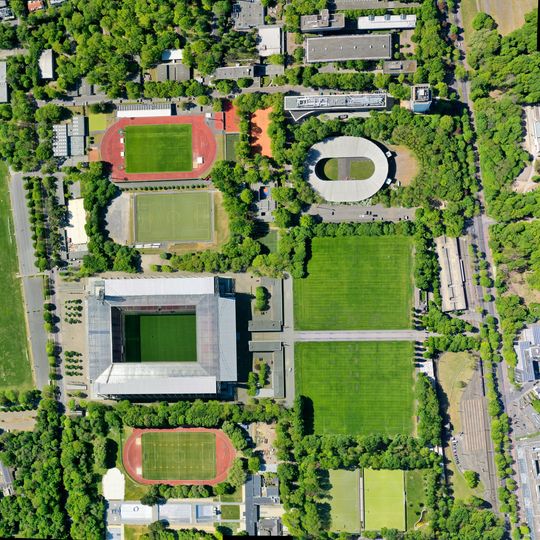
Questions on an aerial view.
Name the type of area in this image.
sports ground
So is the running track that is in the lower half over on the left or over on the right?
left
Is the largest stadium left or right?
left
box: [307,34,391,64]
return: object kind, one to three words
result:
building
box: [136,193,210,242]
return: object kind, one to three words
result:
soccer field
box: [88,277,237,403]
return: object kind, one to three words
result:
stadium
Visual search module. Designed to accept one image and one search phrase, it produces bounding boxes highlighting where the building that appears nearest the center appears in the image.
[248,277,282,331]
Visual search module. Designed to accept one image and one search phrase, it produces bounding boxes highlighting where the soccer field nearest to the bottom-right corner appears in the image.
[364,469,404,531]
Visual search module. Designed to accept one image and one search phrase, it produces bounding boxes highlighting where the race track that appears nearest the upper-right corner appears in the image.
[308,136,388,201]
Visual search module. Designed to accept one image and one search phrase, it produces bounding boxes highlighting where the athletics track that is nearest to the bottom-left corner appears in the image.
[122,428,236,487]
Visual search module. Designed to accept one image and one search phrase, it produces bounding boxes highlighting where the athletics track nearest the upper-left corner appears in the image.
[100,117,216,181]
